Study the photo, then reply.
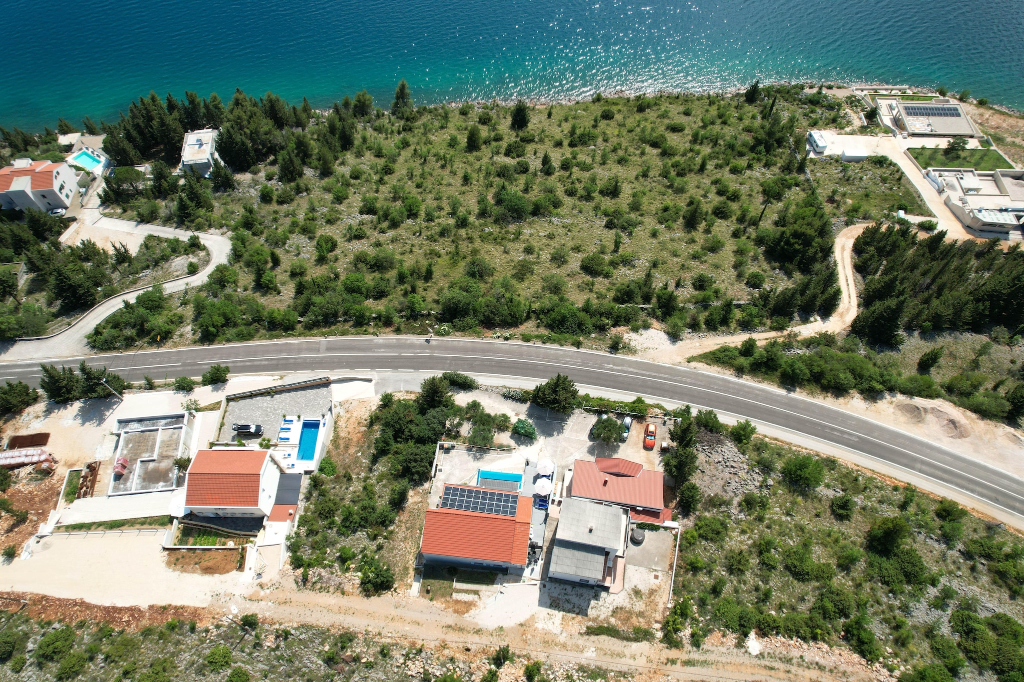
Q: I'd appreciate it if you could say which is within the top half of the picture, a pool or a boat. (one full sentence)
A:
The one visible within the top half of the picture is a pool.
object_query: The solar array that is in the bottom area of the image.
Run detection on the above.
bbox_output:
[440,486,519,516]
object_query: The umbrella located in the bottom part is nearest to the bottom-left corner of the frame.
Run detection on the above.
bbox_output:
[167,494,192,520]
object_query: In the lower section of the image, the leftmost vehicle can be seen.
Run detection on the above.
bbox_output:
[229,422,264,437]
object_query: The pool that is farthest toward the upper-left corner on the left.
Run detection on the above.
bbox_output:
[65,147,110,177]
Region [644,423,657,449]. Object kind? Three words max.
vehicle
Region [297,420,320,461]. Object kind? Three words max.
swimming pool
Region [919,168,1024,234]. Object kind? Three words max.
house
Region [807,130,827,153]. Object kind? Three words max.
camper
